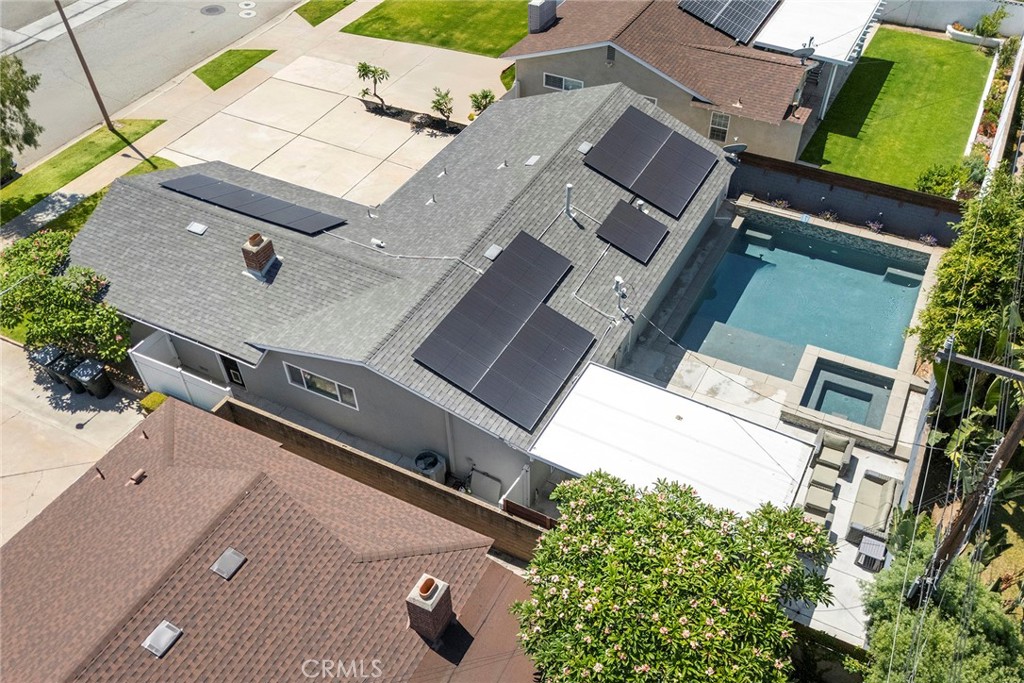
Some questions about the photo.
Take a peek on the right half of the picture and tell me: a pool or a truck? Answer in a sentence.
Visible on the right half of the picture is a pool.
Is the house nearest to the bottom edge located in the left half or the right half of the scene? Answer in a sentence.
The house nearest to the bottom edge appears in the left half of the scene.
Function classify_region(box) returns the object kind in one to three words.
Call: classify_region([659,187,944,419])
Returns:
swimming pool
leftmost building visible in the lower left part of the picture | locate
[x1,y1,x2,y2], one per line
[0,395,495,683]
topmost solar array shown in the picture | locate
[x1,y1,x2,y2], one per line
[681,0,775,39]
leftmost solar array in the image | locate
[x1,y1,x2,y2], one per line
[162,173,345,235]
